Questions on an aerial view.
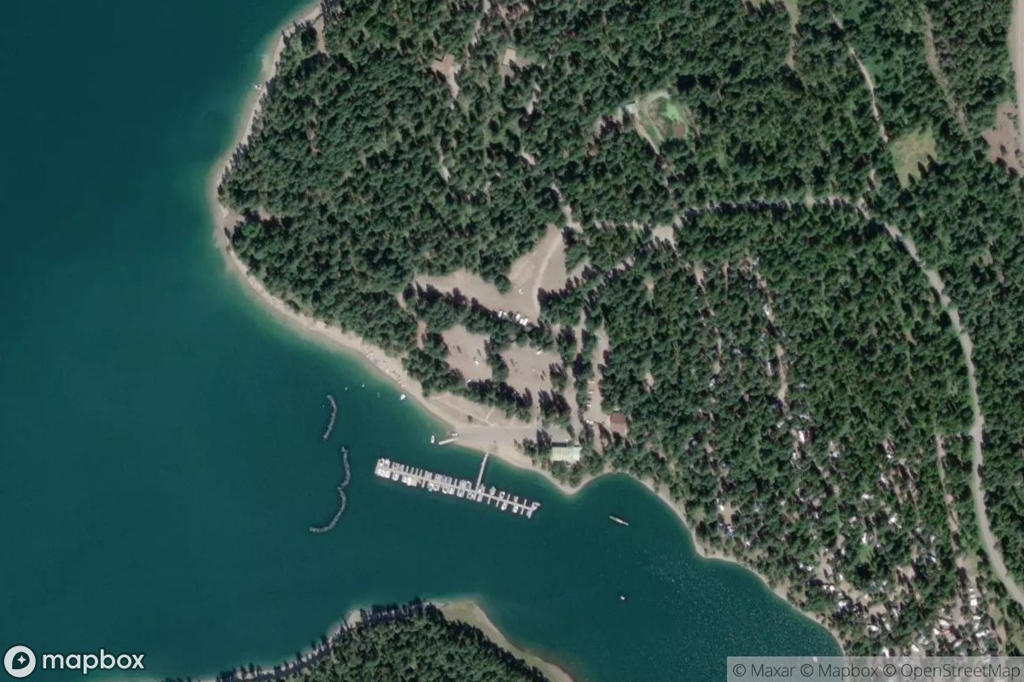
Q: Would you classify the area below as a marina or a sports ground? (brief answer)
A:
marina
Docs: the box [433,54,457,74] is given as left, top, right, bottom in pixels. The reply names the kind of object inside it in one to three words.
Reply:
house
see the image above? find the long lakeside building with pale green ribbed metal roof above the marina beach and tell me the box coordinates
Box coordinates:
[552,447,581,463]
